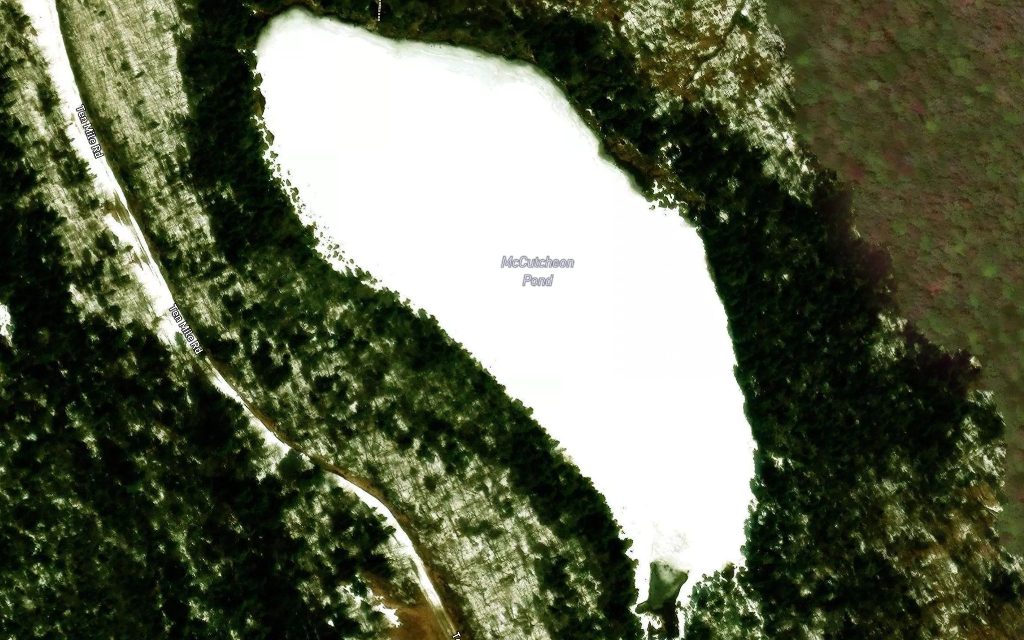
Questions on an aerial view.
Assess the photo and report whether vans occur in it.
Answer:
No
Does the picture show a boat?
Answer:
No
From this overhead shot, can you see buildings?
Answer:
No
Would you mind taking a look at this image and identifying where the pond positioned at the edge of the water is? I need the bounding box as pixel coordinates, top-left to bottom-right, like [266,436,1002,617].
[255,8,756,640]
